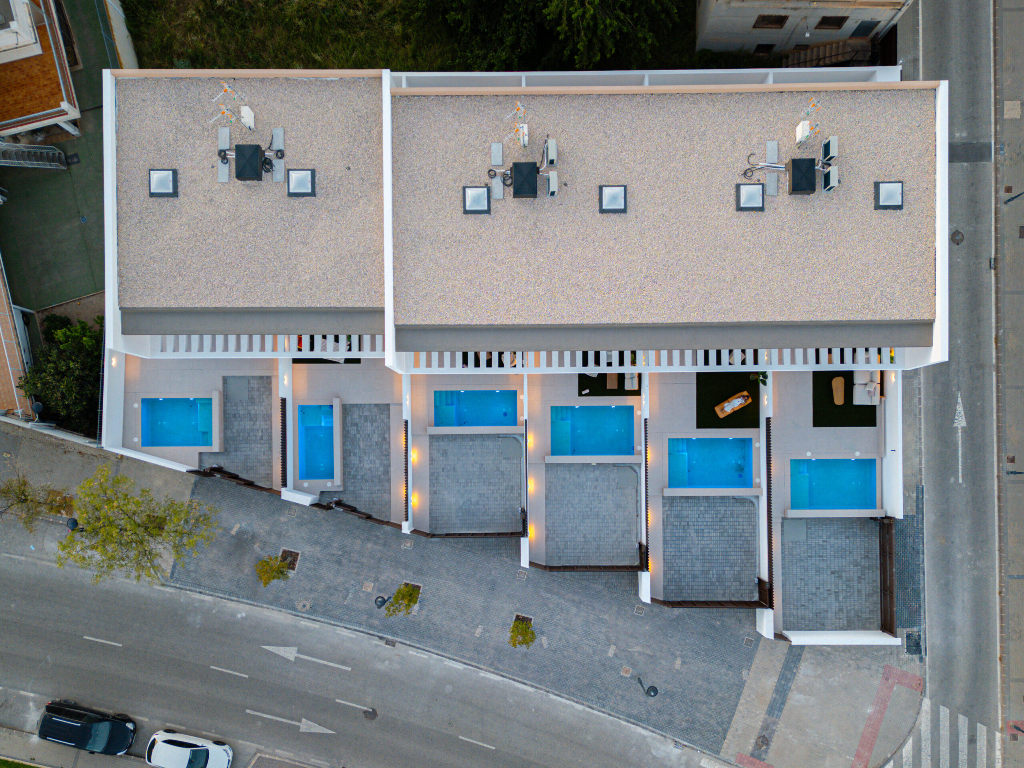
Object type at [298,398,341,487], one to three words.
swimming pool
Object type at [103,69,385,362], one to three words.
house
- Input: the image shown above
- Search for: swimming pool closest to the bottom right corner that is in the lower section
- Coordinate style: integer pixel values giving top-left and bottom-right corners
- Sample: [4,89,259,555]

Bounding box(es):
[786,451,885,517]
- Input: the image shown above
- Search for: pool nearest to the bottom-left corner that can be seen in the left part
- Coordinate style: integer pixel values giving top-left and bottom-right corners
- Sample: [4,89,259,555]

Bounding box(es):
[133,391,224,452]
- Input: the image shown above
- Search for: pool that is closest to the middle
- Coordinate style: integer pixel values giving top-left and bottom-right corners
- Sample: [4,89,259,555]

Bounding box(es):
[427,390,524,434]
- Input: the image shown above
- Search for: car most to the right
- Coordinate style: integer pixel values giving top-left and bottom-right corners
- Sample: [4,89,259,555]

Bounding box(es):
[144,726,234,768]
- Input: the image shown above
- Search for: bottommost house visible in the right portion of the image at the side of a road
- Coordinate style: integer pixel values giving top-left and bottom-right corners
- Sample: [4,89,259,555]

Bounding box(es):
[382,69,948,377]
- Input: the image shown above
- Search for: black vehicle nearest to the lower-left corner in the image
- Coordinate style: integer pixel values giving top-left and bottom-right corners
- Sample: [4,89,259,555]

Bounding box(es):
[33,695,139,757]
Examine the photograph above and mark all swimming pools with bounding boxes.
[662,438,760,496]
[298,398,341,487]
[133,391,224,452]
[786,451,885,517]
[545,406,641,463]
[427,390,524,434]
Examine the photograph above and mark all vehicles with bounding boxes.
[16,307,41,370]
[144,726,234,768]
[33,695,139,757]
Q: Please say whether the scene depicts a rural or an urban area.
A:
urban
